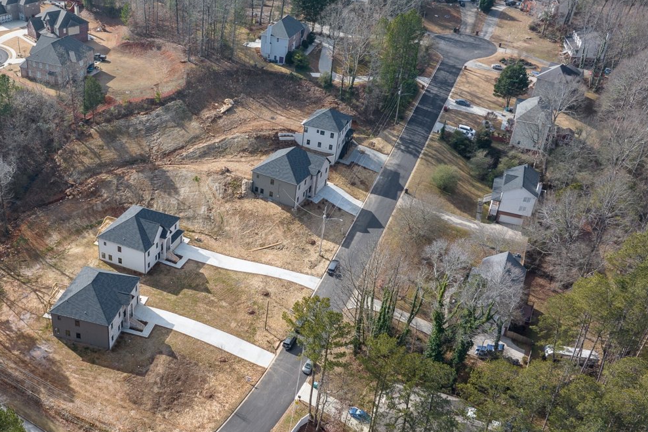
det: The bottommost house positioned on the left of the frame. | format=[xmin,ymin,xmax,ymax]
[49,267,155,349]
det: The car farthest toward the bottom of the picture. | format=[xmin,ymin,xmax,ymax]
[348,406,371,422]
